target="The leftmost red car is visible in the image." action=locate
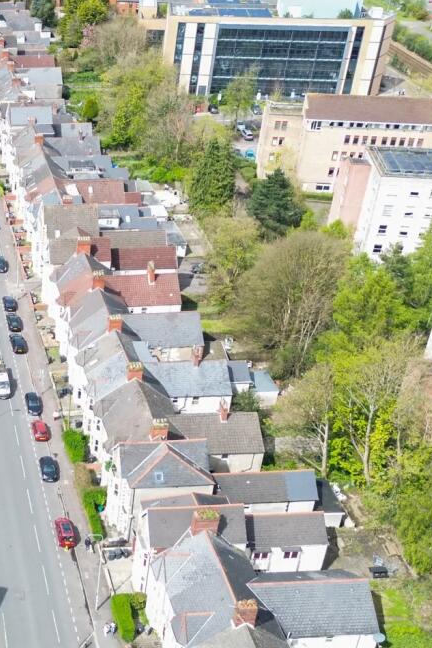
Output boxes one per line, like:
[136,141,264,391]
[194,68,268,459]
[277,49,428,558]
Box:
[31,422,49,445]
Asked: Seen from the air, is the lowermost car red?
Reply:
Yes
